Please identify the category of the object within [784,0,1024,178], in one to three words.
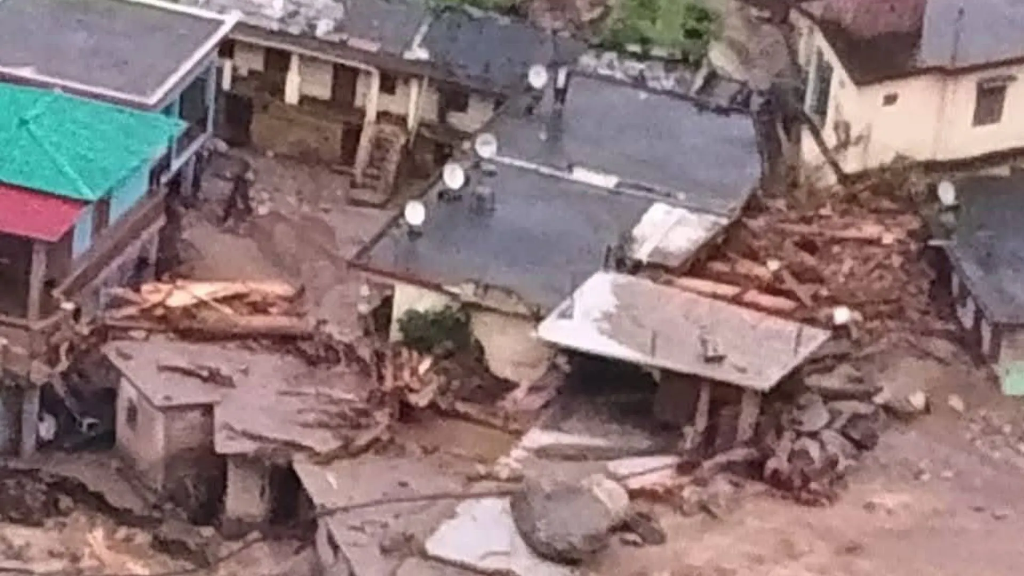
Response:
house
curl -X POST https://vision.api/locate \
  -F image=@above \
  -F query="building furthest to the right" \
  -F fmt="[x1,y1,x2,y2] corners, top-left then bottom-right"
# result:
[927,168,1024,394]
